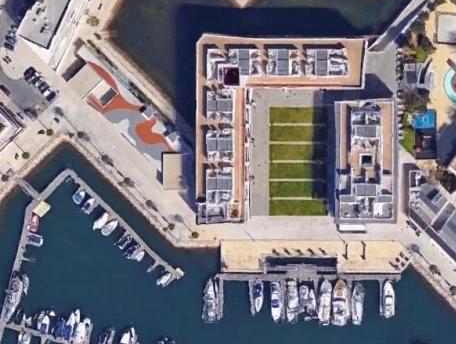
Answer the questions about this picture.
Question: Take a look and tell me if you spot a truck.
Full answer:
No, I can see no truck in this picture.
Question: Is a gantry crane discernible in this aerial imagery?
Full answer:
No, the scene contains no gantry crane.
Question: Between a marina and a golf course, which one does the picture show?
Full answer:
The area seen from above is a marina.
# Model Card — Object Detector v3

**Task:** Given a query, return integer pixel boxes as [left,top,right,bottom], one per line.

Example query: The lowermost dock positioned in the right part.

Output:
[215,262,401,324]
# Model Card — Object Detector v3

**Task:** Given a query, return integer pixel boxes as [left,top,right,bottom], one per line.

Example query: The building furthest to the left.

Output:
[0,106,29,155]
